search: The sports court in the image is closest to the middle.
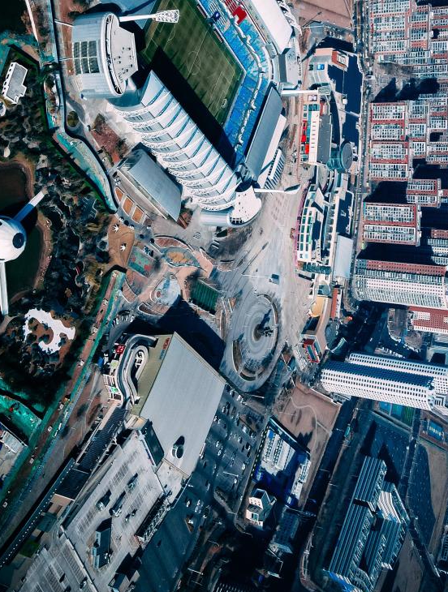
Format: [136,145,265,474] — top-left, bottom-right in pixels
[191,280,223,315]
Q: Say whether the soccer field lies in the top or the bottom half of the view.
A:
top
